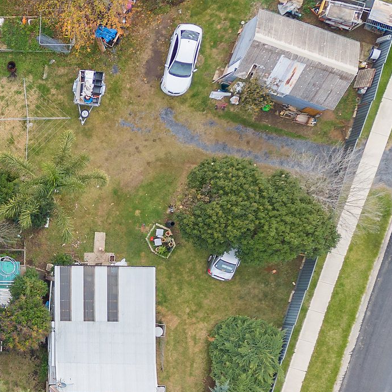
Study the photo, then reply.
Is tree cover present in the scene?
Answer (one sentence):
Yes, there's tree cover in this view.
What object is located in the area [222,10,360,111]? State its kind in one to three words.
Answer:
shed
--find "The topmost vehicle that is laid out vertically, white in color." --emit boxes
[163,22,201,96]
